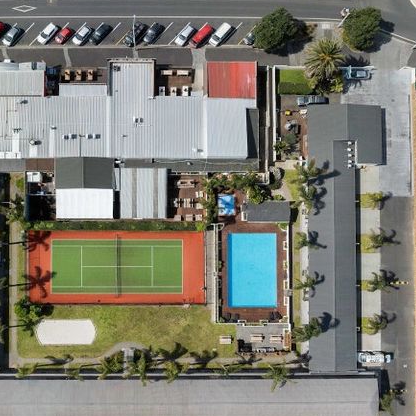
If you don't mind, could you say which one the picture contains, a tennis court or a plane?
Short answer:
tennis court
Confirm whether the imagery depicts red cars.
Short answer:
Yes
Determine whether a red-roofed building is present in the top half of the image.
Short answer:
Yes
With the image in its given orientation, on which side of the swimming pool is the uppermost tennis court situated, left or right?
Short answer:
to its left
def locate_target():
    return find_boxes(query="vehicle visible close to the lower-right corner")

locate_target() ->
[358,353,393,367]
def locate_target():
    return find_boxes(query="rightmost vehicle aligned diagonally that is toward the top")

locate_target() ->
[241,28,258,48]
